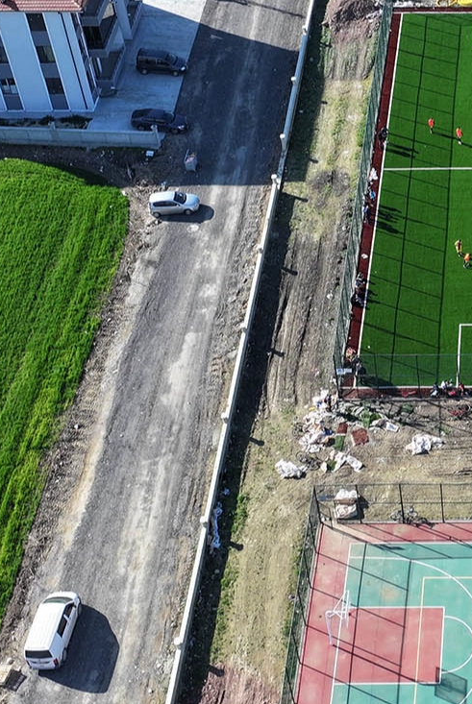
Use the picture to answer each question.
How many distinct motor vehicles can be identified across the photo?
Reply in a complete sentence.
There are 4 motor vehicles in the image.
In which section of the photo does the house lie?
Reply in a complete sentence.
The house is located in the top left region of the scene.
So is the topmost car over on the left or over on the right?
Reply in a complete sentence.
The topmost car appears in the left half of the scene.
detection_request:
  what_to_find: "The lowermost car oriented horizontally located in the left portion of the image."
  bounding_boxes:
[147,189,204,218]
